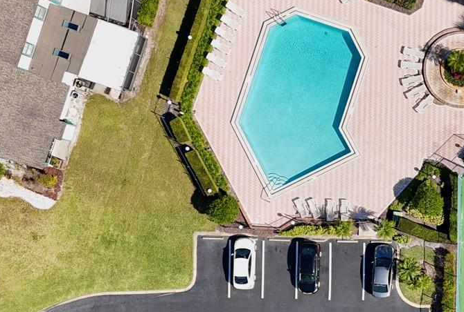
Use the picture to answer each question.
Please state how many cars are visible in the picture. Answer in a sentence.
In total, 3 cars can be seen.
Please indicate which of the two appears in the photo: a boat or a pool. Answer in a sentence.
Looking from above, you can make out a pool.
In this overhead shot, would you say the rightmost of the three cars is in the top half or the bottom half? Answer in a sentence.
The rightmost of the three cars is in the bottom half of the image.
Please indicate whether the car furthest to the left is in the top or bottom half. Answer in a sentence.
It is in the bottom half that the car furthest to the left appears.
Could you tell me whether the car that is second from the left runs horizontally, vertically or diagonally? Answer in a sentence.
I'd say the car that is second from the left is aligned vertically in the picture.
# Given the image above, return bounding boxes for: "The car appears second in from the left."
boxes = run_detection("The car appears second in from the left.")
[295,240,321,294]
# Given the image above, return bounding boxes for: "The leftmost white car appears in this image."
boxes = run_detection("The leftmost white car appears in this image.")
[229,236,256,290]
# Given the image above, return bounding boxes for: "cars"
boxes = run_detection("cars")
[295,240,321,294]
[370,242,395,298]
[229,236,256,290]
